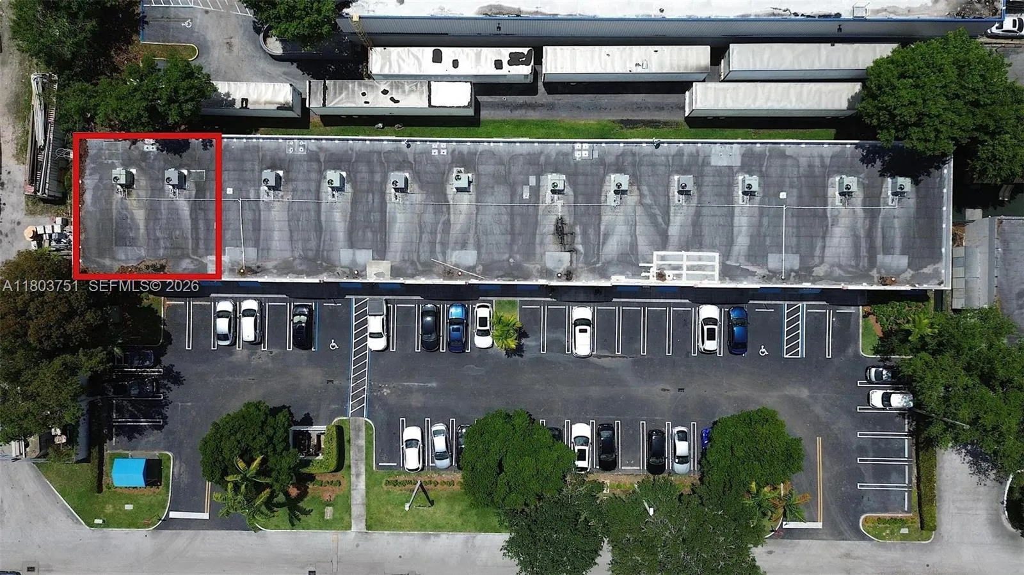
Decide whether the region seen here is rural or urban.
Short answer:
urban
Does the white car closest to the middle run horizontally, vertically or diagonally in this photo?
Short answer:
vertically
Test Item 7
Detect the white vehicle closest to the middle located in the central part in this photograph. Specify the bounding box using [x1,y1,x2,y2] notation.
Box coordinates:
[472,303,493,349]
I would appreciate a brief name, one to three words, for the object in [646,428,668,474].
car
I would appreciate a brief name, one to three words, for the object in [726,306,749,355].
car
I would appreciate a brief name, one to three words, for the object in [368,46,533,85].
trailer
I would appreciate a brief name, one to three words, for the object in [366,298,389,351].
truck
